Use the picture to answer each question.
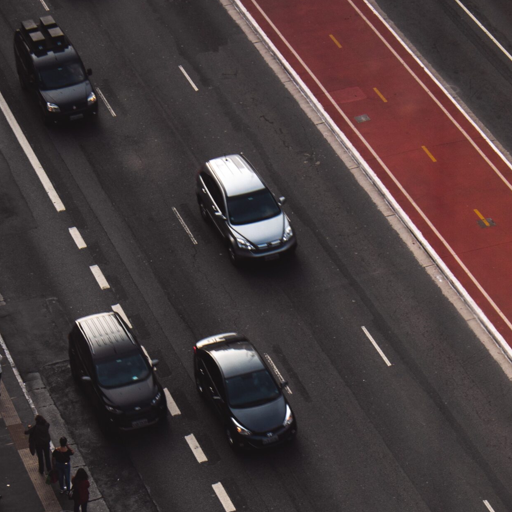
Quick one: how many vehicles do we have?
3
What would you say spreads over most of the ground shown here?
paved ground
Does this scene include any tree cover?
No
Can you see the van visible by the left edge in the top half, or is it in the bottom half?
top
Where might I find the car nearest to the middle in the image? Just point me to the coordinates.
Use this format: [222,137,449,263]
[195,151,294,264]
